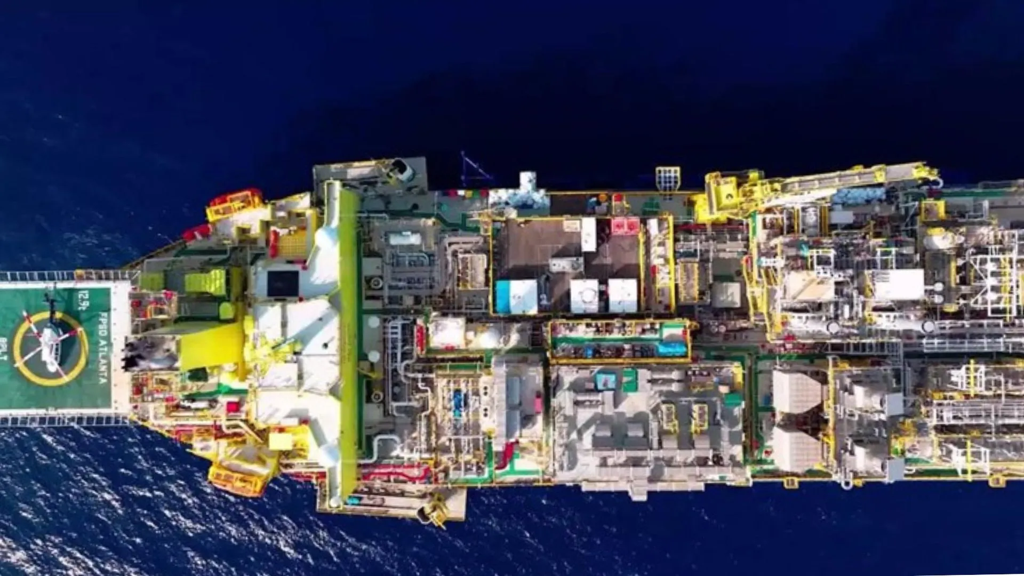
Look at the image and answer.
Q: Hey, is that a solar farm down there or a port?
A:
port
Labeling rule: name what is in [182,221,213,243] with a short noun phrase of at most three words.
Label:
boat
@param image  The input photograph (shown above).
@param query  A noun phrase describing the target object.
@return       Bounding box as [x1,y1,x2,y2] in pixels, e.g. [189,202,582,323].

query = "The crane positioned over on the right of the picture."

[690,162,944,223]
